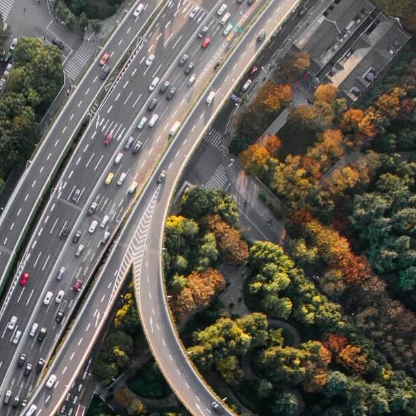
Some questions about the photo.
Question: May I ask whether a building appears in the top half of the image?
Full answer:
Yes, a building shows up in the top half of the image.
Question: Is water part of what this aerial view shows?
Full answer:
No, there's no water in this view.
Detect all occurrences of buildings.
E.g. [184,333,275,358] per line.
[321,11,412,101]
[290,0,375,73]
